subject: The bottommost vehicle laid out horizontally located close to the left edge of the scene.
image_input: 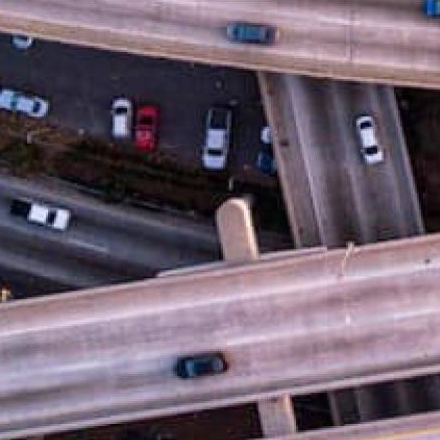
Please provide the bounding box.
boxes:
[10,199,71,230]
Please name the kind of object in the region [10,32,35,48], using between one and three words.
car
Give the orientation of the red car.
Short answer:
vertically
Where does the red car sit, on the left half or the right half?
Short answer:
left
